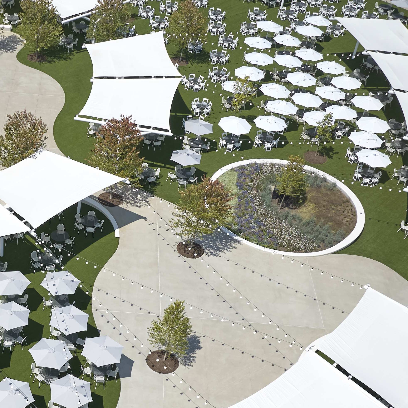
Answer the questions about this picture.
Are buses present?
No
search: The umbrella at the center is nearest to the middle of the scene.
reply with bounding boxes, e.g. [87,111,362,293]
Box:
[169,150,201,184]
